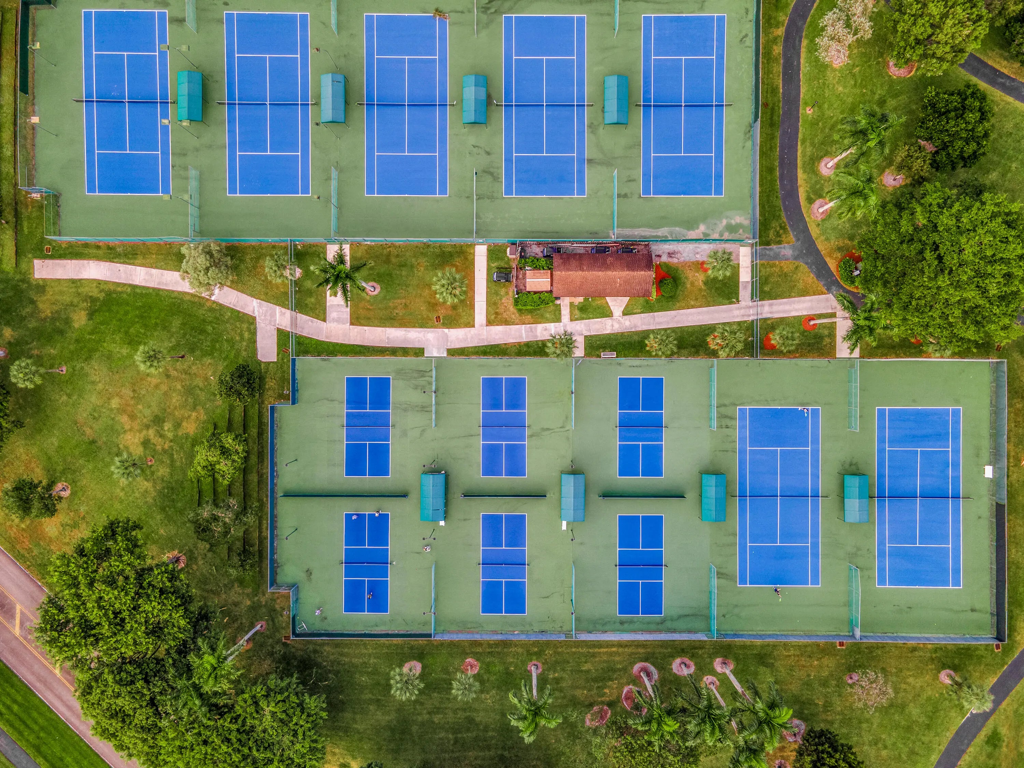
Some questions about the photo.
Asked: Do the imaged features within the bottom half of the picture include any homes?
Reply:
No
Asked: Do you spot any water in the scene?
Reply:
No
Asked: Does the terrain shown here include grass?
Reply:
Yes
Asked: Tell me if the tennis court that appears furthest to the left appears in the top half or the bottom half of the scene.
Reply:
top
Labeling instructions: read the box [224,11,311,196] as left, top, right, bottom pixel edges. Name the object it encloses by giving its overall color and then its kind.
blue tennis court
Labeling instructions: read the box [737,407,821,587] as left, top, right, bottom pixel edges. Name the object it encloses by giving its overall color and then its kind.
blue tennis court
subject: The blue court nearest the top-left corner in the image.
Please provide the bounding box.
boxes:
[82,10,172,195]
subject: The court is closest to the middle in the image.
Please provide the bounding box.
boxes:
[481,376,527,477]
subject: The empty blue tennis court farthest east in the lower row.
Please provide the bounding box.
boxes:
[875,407,963,588]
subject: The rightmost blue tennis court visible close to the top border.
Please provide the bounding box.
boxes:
[641,14,727,197]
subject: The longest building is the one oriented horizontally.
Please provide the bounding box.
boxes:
[553,253,654,297]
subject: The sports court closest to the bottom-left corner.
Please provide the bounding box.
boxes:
[343,513,390,614]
